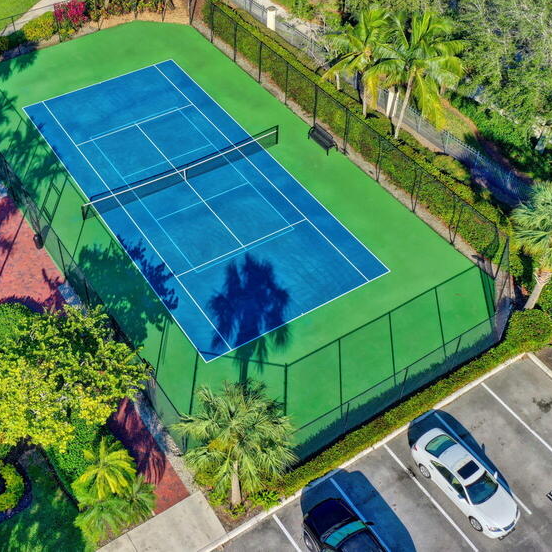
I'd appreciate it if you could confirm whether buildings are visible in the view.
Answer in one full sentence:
No, the scene contains no building.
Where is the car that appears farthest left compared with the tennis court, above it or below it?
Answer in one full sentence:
The car that appears farthest left is located below the tennis court in this view.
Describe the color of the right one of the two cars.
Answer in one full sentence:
The color of the right one of the two cars is white.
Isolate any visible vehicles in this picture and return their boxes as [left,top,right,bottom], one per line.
[300,501,380,552]
[410,429,523,538]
